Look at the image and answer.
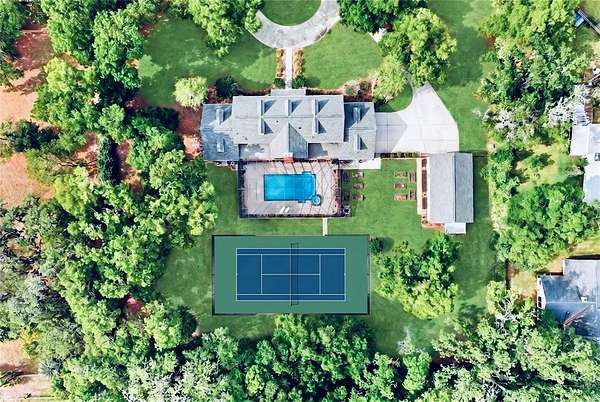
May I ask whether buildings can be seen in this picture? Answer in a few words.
Yes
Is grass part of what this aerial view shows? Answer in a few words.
Yes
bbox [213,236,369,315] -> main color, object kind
green tennis court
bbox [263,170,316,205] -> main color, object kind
blue swimming pool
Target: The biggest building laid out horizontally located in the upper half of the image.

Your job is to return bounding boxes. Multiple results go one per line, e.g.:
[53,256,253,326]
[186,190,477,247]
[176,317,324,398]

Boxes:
[199,89,379,164]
